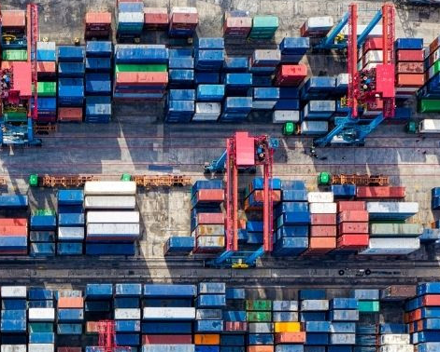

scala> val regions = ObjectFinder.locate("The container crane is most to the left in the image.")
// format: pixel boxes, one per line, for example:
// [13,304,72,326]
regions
[0,0,40,143]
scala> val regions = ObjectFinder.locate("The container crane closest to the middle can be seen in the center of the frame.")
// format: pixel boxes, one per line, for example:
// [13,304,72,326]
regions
[206,128,275,267]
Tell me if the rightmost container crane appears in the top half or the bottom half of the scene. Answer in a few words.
top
